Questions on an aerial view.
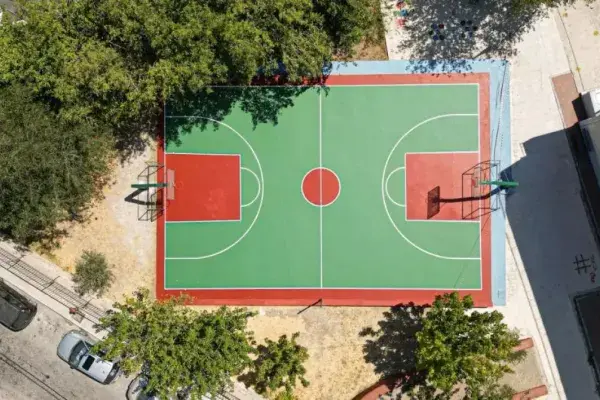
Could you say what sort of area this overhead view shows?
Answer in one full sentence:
The area seen from above is a sports ground.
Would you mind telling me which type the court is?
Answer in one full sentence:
The court can be classified as a basketball court.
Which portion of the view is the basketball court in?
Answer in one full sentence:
The basketball court is in the center part of the image.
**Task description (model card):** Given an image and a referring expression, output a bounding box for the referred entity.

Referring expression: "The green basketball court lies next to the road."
[156,61,510,307]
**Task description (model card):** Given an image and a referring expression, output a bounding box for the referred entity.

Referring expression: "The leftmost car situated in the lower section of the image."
[0,275,39,328]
